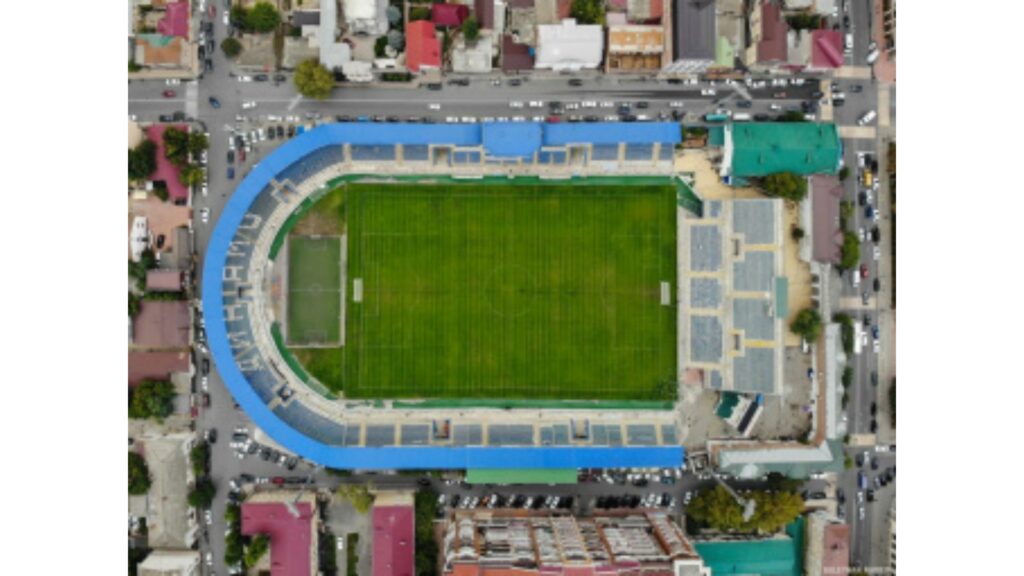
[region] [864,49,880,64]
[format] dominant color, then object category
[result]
white vehicle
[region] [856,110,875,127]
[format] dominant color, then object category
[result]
white vehicle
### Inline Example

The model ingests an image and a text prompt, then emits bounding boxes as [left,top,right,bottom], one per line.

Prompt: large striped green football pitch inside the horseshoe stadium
[345,184,676,401]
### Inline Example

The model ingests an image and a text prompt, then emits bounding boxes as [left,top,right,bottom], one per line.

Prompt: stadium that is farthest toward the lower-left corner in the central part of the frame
[203,122,683,484]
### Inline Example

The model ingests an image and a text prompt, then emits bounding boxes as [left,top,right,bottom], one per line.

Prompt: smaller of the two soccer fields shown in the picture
[283,234,343,348]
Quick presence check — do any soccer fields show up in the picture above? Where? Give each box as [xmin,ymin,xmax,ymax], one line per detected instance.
[345,184,676,401]
[283,234,343,348]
